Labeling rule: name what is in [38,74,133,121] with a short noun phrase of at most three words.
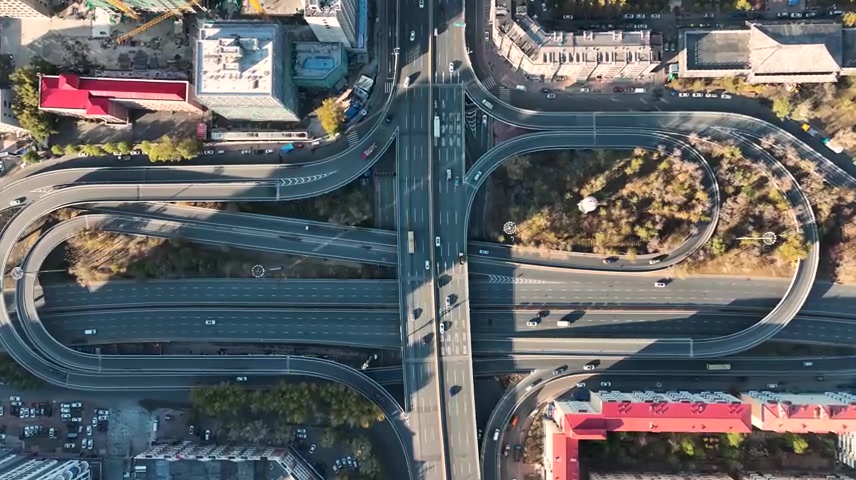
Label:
building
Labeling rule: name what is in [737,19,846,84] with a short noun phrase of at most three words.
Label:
building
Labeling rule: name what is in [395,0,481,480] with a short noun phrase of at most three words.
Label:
overpass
